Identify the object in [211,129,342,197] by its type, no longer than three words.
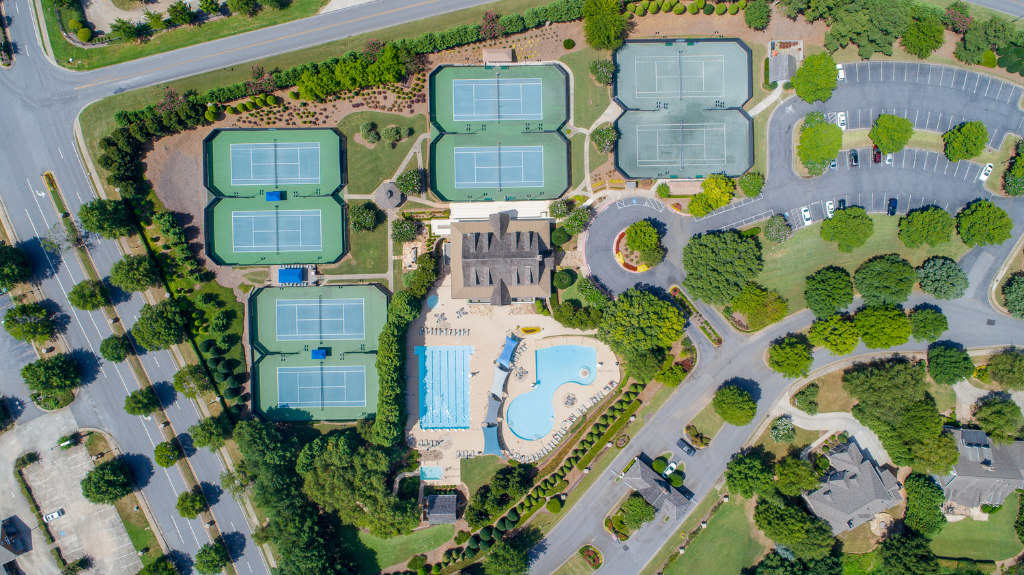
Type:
tennis court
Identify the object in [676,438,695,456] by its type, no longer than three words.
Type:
vehicle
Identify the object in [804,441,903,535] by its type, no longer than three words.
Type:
house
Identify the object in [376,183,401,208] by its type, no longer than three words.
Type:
gazebo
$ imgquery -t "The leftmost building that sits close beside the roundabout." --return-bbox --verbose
[444,212,555,306]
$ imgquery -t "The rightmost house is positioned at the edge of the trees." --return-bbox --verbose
[935,429,1024,508]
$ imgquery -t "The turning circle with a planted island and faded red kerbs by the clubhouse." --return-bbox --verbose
[584,196,692,299]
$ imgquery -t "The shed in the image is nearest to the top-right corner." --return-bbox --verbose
[767,40,803,85]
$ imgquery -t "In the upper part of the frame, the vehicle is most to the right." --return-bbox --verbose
[978,163,992,181]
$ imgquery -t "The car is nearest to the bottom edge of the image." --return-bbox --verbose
[44,508,66,522]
